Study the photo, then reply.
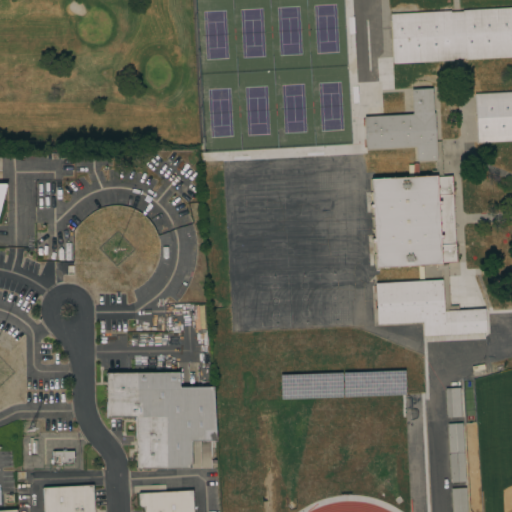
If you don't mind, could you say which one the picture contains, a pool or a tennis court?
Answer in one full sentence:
Looking from above, you can make out a tennis court.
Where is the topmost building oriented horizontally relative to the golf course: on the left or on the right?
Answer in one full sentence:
Looking at the photo, the topmost building oriented horizontally lies to the right of the golf course.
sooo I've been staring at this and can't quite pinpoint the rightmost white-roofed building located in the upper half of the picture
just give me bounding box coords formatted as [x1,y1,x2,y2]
[476,92,512,142]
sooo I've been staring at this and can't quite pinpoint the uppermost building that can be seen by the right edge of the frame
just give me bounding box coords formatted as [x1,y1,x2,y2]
[392,8,512,63]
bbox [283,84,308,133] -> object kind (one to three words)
tennis court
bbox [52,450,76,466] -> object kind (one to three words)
building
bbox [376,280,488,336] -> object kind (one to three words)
building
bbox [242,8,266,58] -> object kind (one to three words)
tennis court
